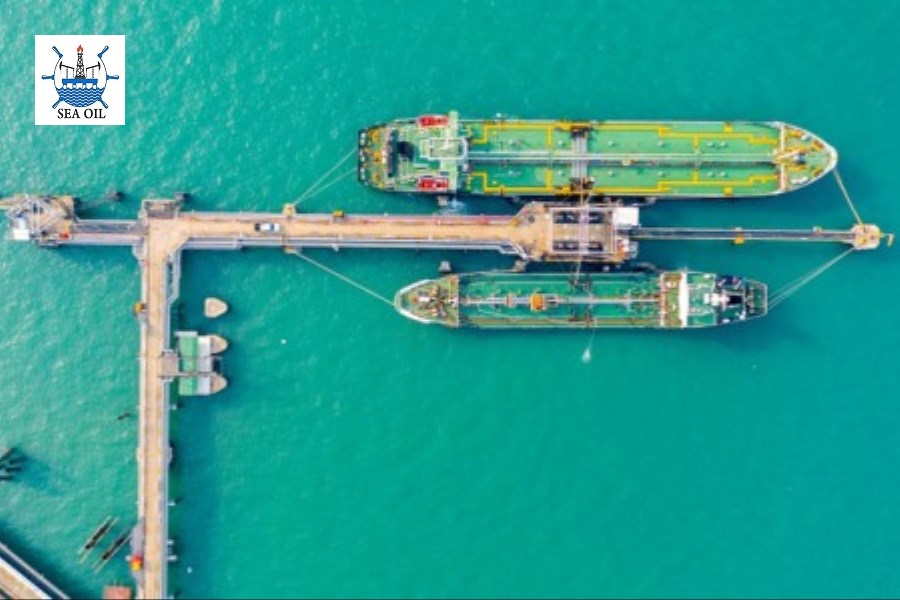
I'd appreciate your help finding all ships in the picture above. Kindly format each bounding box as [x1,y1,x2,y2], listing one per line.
[359,111,838,199]
[395,266,769,329]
